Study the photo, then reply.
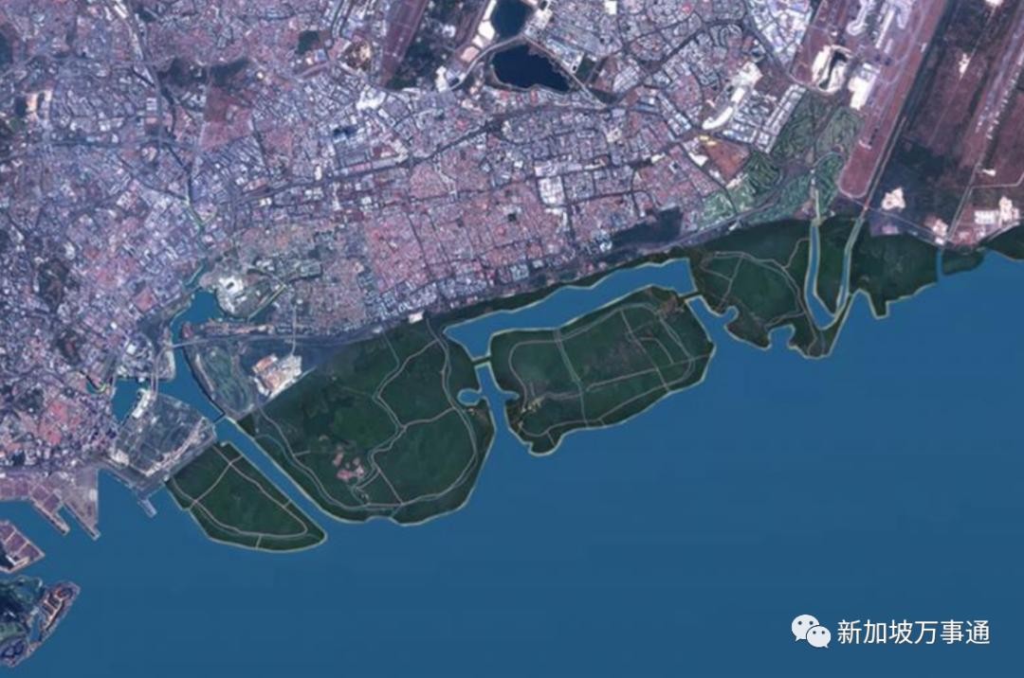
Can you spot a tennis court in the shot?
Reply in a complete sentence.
No, the photo shows no tennis court.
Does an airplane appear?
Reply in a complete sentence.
No, there is no airplane in the image.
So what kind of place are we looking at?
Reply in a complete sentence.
The picture captures a port.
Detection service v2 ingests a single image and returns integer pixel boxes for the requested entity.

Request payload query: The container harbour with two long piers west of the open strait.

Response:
[0,469,100,540]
